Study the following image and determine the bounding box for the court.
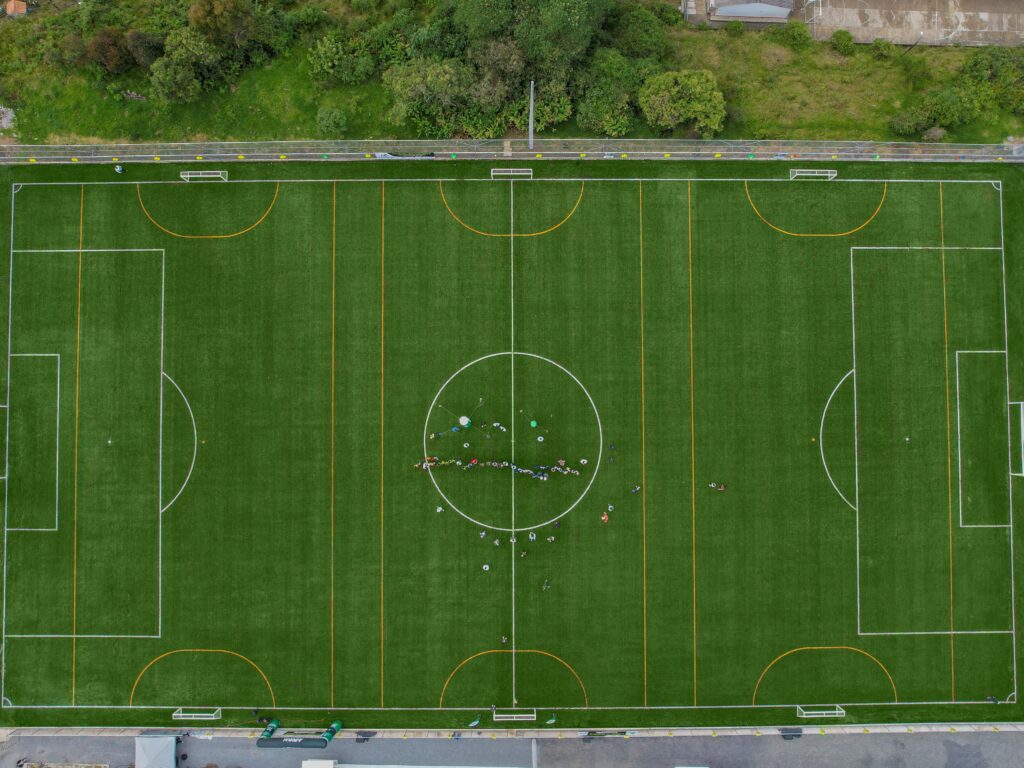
[806,0,1024,48]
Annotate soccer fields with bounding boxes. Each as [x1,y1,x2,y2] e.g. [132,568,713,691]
[0,159,1024,729]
